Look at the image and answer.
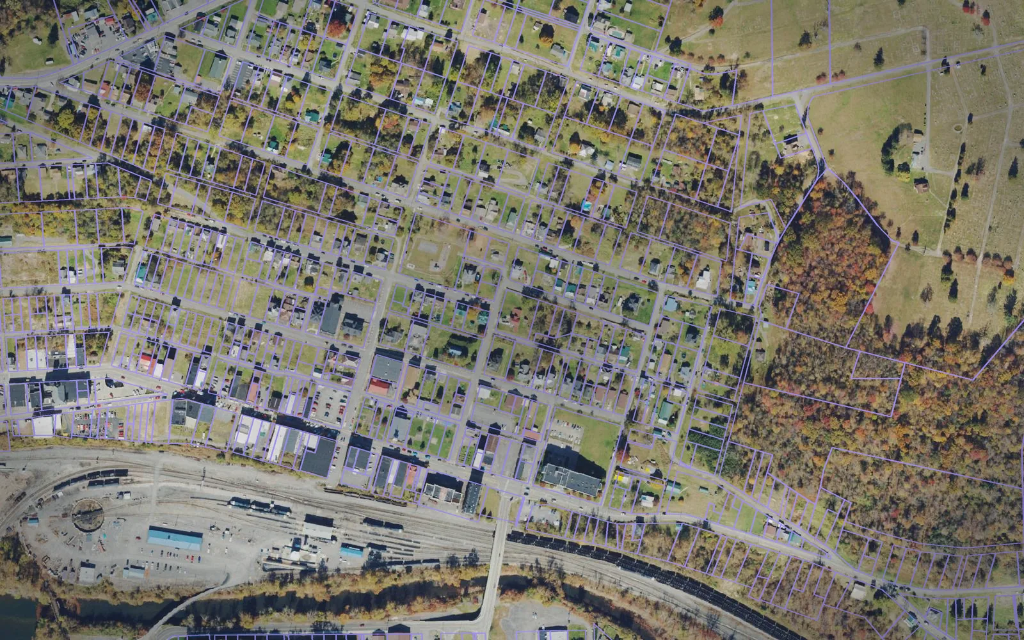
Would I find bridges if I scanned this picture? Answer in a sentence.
Yes, you can see a bridge in this photo.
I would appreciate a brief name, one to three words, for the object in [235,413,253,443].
building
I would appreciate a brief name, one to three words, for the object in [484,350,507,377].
house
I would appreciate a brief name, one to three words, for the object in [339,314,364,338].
house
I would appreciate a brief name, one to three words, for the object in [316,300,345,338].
building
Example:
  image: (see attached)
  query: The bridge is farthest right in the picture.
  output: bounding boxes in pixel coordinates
[480,491,514,616]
